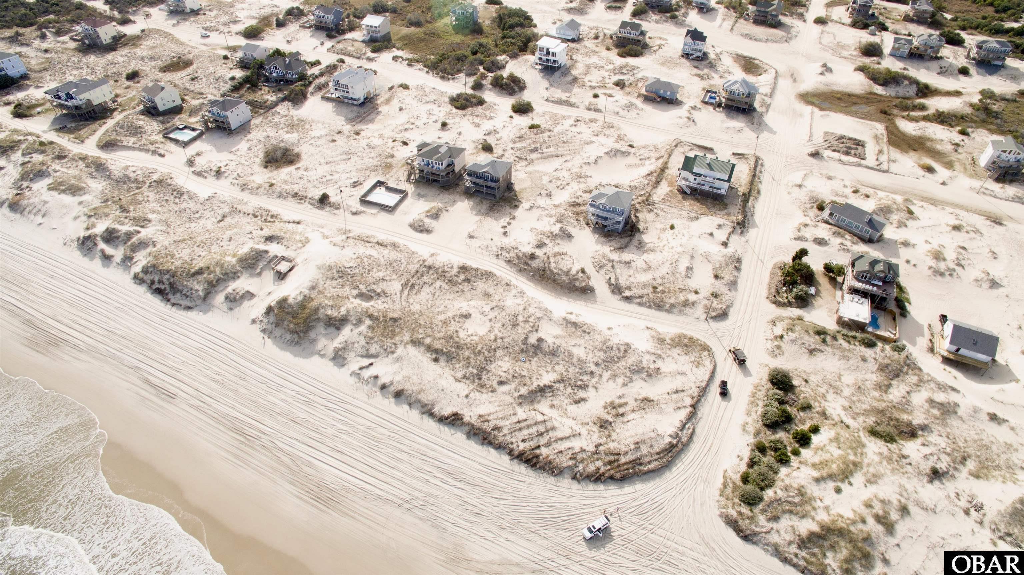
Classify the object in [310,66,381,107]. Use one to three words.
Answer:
house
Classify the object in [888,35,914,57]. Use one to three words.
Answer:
building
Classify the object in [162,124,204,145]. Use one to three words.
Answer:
swimming pool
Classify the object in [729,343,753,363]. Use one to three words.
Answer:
vehicle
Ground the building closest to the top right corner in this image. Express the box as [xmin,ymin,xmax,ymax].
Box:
[957,37,1012,67]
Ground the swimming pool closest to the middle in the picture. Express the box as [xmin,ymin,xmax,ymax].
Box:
[359,180,408,211]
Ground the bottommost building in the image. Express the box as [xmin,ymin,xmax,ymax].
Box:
[931,320,1003,378]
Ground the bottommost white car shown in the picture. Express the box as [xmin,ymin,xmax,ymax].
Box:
[579,508,612,535]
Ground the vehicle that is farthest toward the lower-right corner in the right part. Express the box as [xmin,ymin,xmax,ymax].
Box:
[936,310,950,327]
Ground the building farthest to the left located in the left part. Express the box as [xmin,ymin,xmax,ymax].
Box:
[0,47,30,78]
